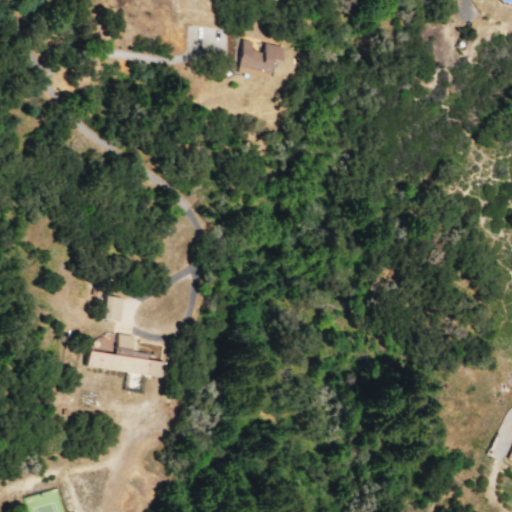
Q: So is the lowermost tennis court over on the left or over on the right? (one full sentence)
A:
The lowermost tennis court sits on the left side.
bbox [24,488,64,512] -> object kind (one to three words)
tennis court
